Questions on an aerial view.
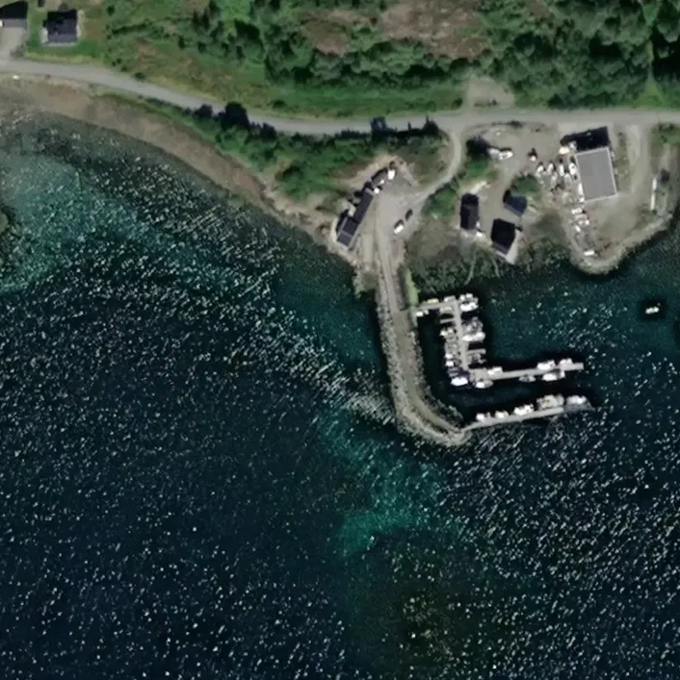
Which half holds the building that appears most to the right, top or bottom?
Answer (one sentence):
You can find the building that appears most to the right in the top half.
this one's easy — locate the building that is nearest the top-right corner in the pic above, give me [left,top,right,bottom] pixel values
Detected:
[575,147,617,202]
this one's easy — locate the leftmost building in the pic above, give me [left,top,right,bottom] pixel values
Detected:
[0,15,29,29]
